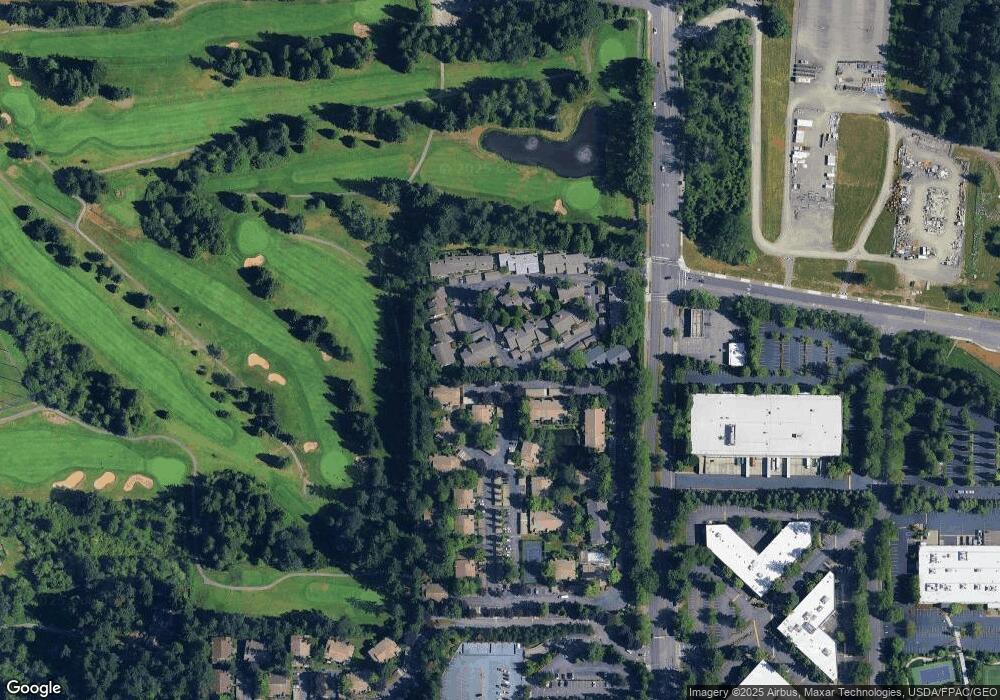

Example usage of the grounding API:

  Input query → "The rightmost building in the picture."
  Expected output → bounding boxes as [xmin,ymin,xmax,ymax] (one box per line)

[919,546,1000,610]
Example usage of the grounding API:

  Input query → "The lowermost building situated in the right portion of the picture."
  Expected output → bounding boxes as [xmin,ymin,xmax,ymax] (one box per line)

[729,660,807,700]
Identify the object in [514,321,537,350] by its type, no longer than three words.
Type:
house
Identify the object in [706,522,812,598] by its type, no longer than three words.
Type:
building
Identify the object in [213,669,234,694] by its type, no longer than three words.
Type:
house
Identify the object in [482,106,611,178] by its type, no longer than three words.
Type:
pond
